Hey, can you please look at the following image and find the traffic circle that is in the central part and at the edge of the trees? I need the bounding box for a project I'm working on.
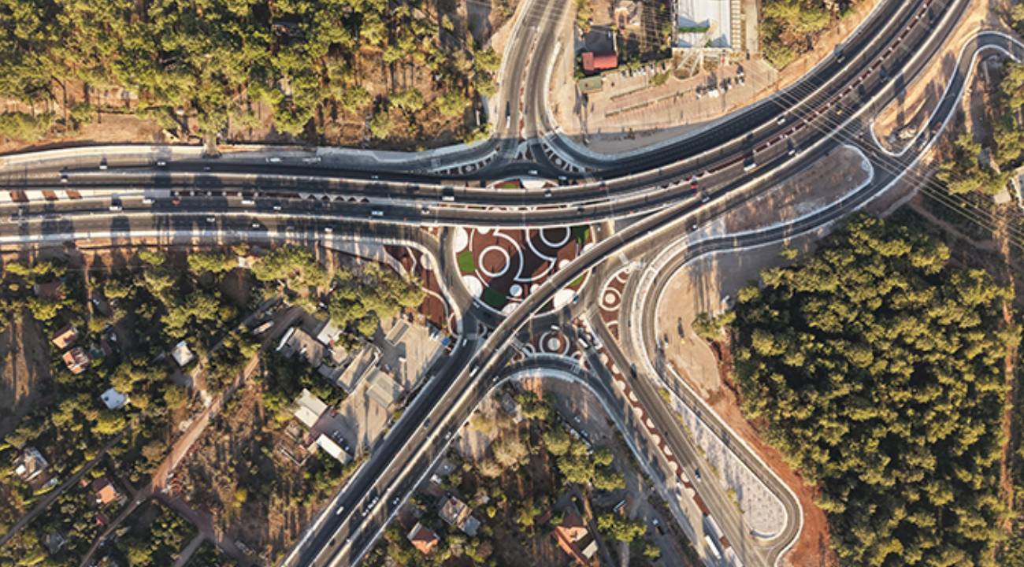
[434,158,612,335]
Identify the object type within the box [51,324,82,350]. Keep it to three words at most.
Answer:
house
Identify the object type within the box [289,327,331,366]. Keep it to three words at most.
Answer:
building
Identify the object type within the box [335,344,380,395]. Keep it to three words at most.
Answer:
building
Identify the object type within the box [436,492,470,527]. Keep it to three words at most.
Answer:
house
